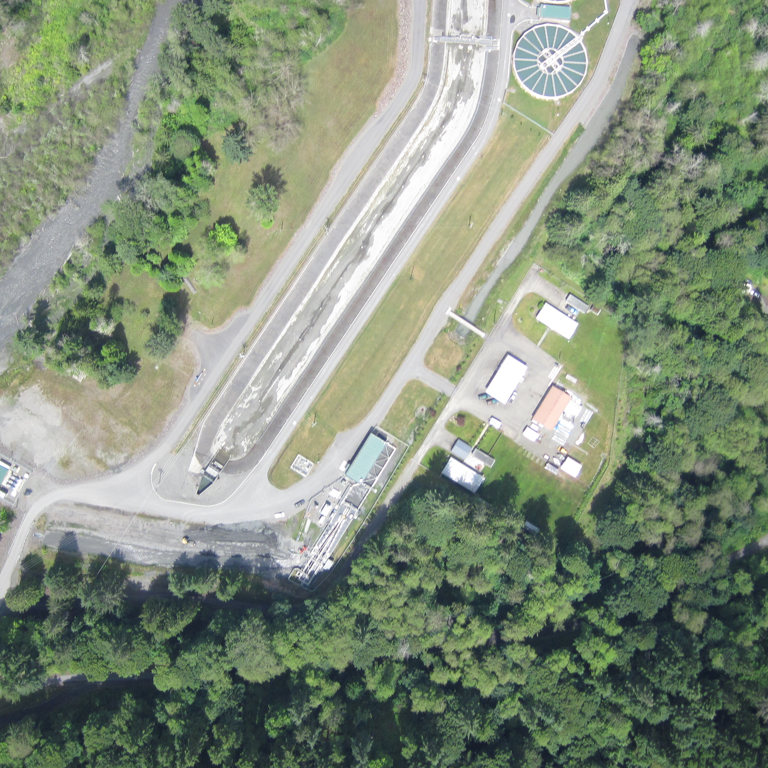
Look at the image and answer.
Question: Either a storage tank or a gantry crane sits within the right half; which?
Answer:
storage tank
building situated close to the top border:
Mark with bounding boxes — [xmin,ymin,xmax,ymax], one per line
[540,4,572,22]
